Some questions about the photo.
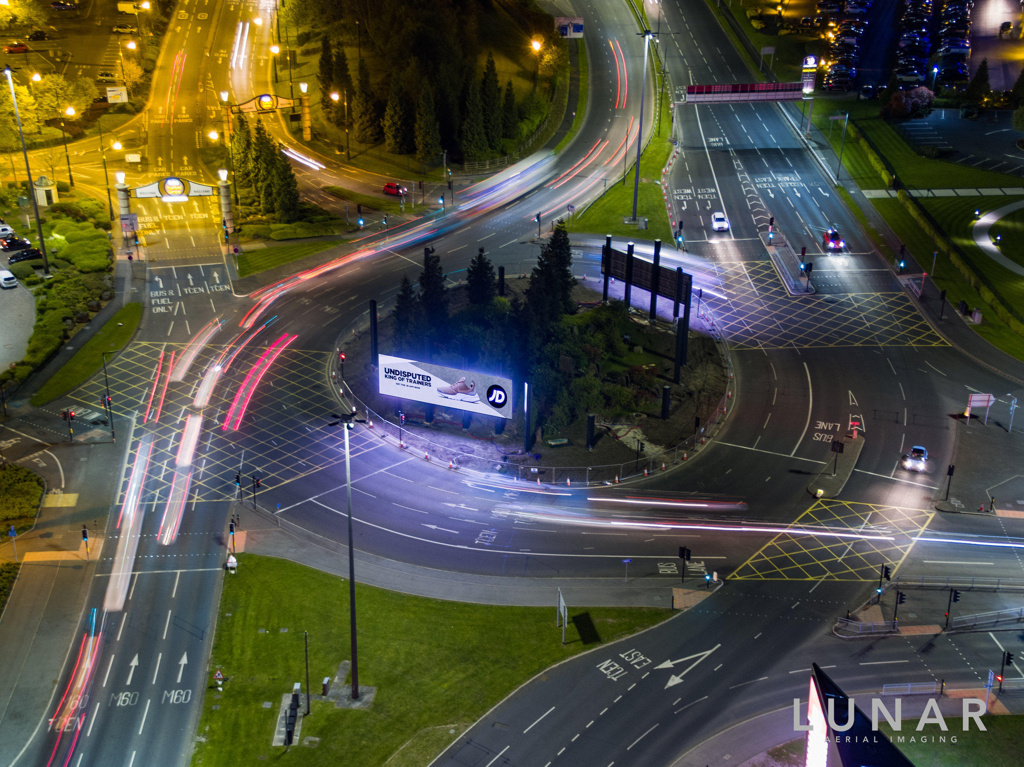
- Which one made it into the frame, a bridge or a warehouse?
bridge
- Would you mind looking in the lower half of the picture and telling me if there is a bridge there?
No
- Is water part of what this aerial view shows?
No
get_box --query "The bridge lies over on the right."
[667,81,817,139]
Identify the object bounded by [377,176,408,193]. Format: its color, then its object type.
red car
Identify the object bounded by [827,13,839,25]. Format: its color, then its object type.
black vehicle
